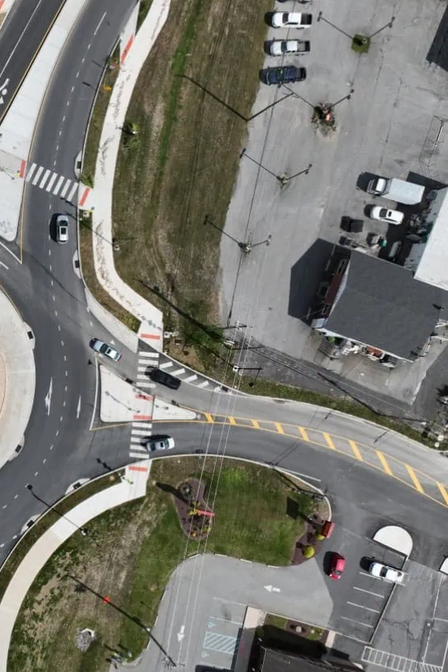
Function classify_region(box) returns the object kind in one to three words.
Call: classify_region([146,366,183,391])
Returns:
car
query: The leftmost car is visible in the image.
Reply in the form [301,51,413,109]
[55,213,70,244]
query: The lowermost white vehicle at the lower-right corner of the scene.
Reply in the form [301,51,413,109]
[367,562,408,585]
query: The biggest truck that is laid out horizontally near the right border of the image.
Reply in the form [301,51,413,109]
[368,175,428,202]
